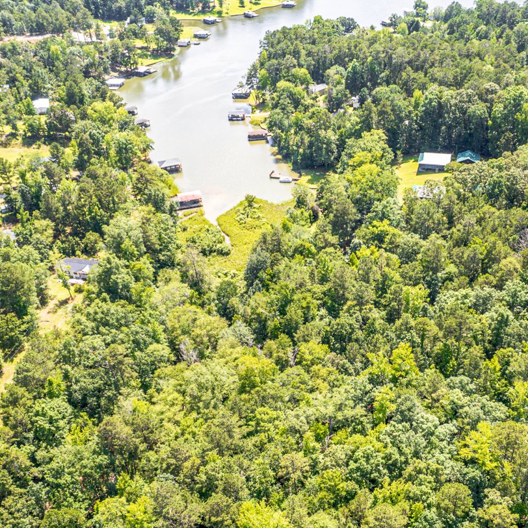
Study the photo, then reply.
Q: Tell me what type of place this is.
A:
forest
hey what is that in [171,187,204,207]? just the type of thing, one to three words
building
